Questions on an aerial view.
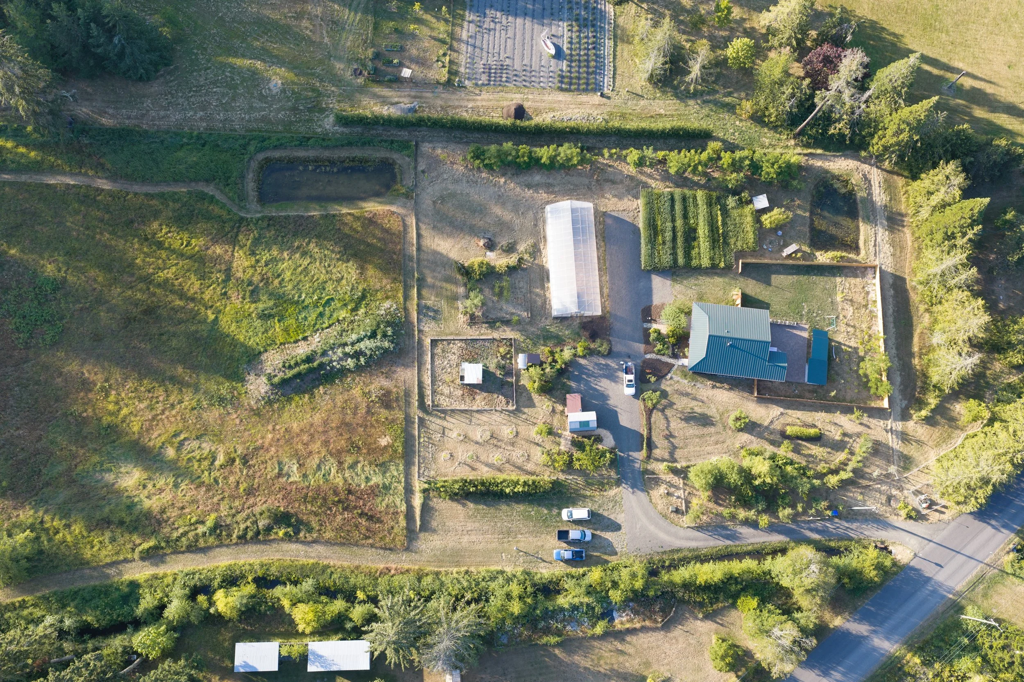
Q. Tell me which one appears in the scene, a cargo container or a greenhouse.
greenhouse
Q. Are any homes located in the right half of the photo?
Yes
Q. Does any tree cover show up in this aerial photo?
Yes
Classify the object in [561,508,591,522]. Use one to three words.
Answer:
car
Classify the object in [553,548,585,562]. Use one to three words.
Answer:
vehicle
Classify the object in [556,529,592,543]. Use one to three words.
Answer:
vehicle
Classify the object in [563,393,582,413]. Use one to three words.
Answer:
shed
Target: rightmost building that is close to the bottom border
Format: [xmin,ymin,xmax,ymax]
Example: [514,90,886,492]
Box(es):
[308,638,371,672]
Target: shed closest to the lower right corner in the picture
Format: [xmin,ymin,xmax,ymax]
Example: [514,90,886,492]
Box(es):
[803,330,828,385]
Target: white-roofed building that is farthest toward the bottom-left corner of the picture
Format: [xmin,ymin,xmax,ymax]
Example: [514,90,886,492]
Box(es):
[235,640,283,672]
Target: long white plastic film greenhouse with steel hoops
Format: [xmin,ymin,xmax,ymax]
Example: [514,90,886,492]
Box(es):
[544,200,601,317]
